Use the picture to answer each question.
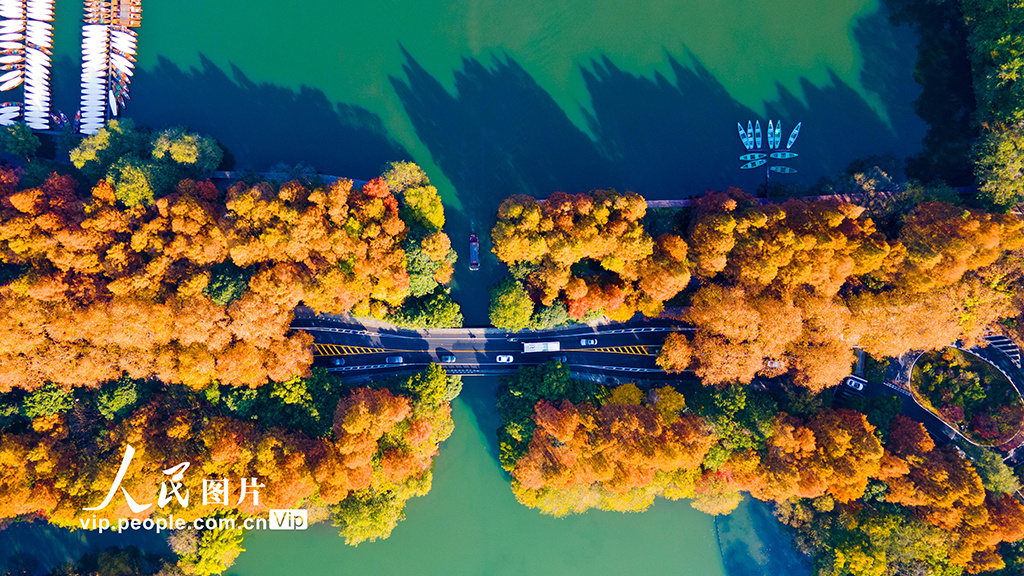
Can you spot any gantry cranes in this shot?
No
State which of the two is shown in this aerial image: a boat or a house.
boat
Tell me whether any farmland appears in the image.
No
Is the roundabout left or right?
right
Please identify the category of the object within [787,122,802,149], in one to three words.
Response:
boat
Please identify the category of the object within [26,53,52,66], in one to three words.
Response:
boat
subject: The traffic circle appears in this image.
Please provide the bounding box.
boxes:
[909,345,1024,447]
